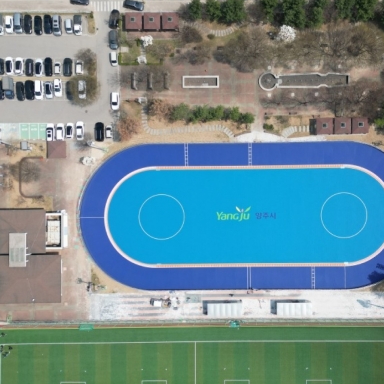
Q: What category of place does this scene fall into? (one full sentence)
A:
It's a sports ground.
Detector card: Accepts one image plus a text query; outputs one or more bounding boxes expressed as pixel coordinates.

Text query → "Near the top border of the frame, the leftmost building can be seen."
[125,12,143,32]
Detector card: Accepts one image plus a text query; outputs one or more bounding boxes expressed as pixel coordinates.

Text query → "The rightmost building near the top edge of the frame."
[162,12,179,32]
